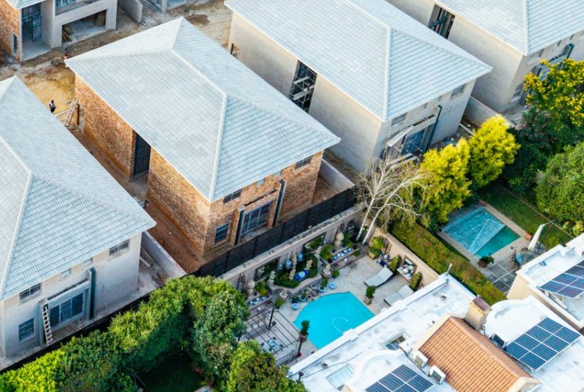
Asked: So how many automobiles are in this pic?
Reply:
0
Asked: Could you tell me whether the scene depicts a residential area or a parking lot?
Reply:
residential area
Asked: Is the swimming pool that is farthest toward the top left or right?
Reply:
right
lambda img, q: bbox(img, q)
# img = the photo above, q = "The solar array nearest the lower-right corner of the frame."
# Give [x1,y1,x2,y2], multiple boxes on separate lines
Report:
[507,320,583,372]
